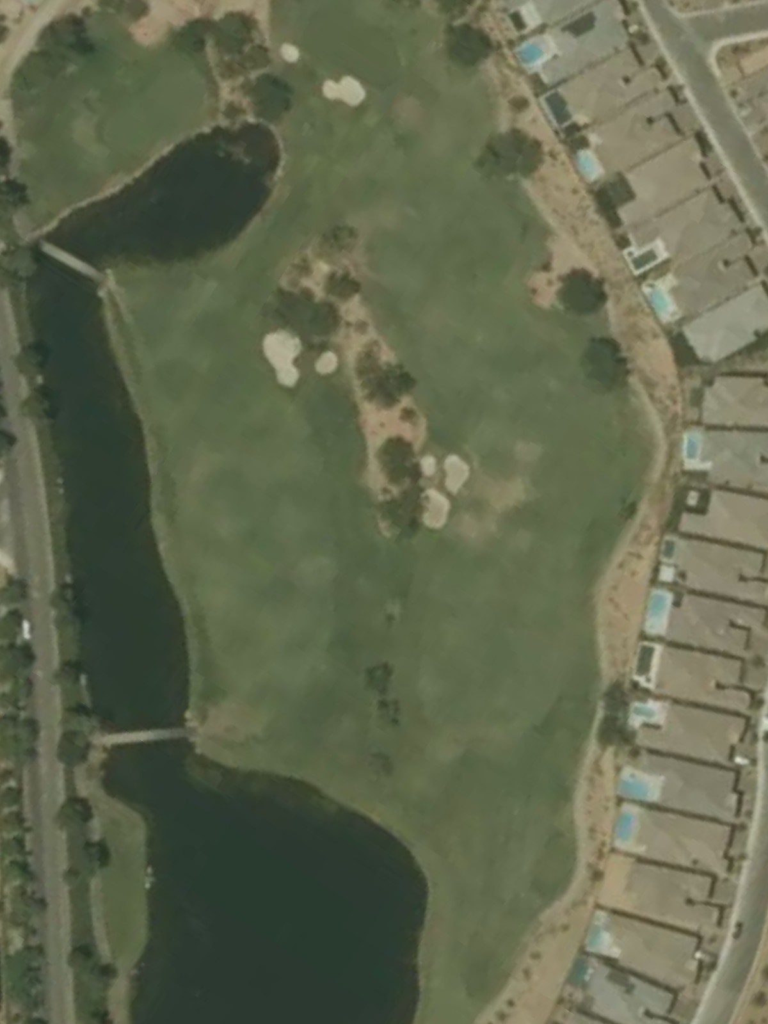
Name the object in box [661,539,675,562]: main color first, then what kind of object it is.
gray swimming pool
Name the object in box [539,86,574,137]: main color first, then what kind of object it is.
gray swimming pool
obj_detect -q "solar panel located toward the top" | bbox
[563,13,597,39]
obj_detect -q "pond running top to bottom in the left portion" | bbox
[26,119,429,1024]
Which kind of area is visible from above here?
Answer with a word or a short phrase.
golf course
